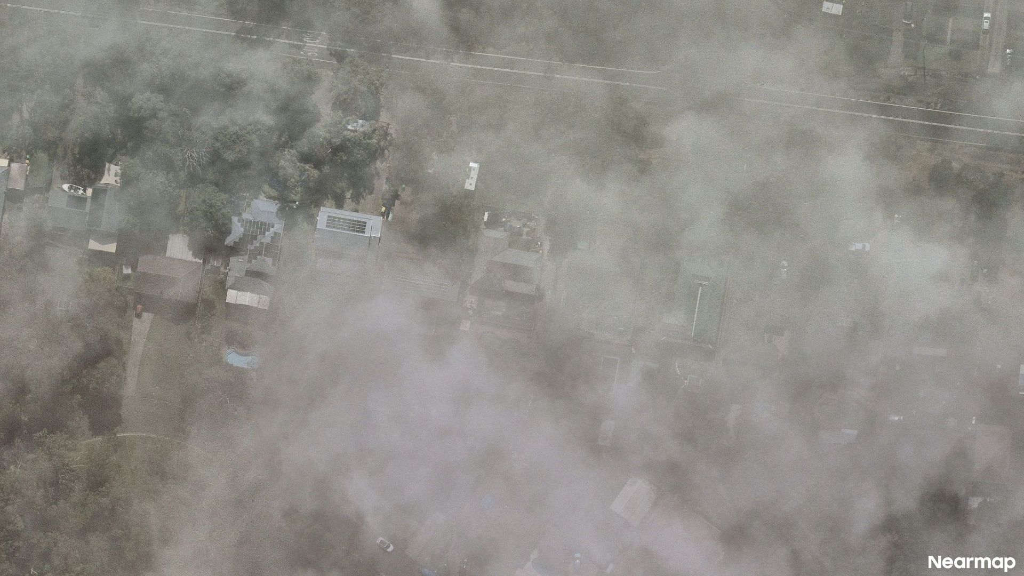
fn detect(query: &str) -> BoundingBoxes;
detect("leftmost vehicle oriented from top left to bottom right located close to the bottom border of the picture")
[376,537,394,552]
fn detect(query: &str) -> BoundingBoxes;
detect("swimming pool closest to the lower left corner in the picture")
[224,347,262,371]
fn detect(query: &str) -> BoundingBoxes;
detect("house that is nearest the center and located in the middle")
[469,248,544,299]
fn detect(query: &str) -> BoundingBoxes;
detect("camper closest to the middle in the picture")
[461,160,480,189]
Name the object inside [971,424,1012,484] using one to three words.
house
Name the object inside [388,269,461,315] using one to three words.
house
